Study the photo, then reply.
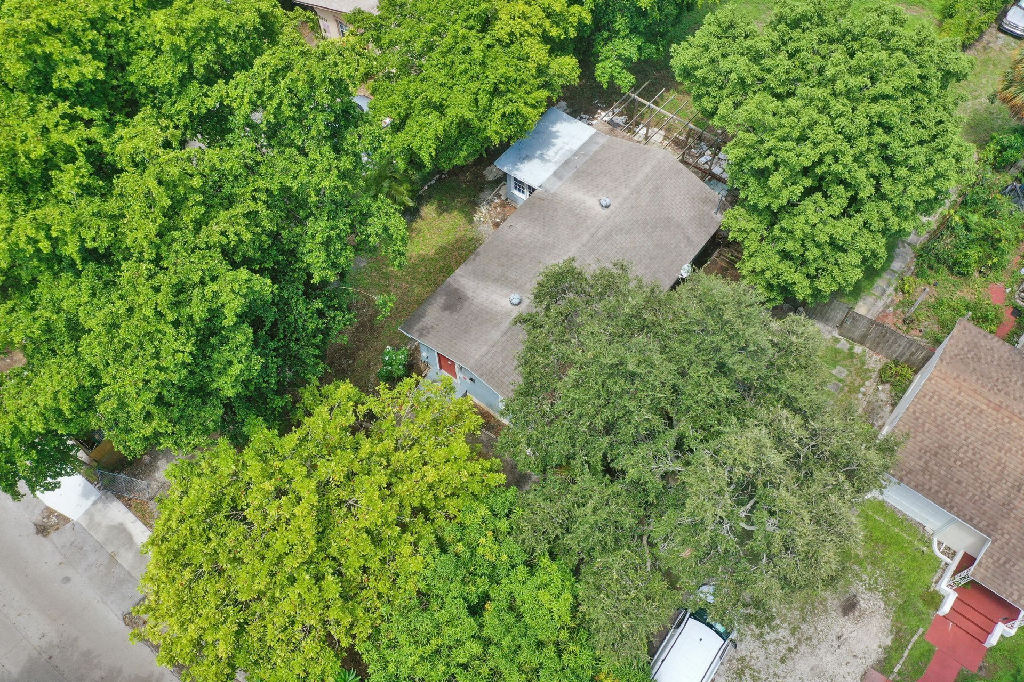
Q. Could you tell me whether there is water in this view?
No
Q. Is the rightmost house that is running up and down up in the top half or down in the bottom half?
bottom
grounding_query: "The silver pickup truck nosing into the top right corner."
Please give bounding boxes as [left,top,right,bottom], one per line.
[1003,3,1024,41]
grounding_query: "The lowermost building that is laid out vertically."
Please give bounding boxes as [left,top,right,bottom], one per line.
[867,318,1024,651]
